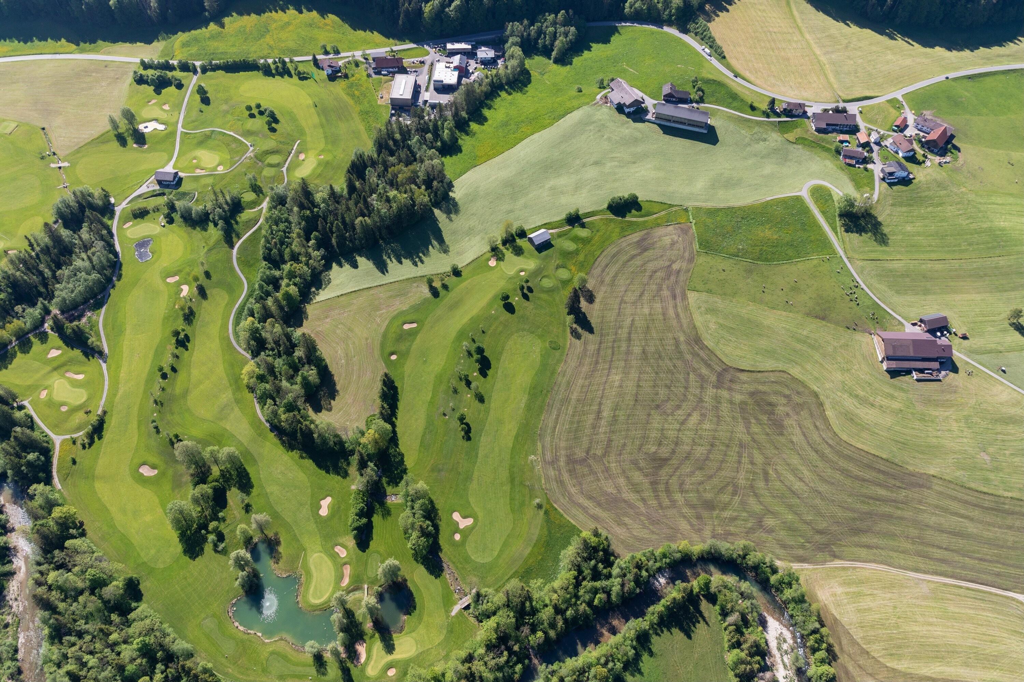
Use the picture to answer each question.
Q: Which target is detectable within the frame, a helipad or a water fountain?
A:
water fountain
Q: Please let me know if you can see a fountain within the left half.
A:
Yes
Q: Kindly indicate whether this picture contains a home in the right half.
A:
Yes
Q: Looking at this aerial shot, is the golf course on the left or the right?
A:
left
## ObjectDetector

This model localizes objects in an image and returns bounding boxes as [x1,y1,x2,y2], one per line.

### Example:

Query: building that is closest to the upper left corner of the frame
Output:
[154,169,179,185]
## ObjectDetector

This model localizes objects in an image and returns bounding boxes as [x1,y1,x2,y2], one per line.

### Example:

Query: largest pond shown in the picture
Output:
[231,542,337,647]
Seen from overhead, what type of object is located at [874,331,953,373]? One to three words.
barn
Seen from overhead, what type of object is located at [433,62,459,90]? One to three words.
building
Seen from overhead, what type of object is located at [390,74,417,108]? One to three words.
building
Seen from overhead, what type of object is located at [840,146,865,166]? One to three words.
house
